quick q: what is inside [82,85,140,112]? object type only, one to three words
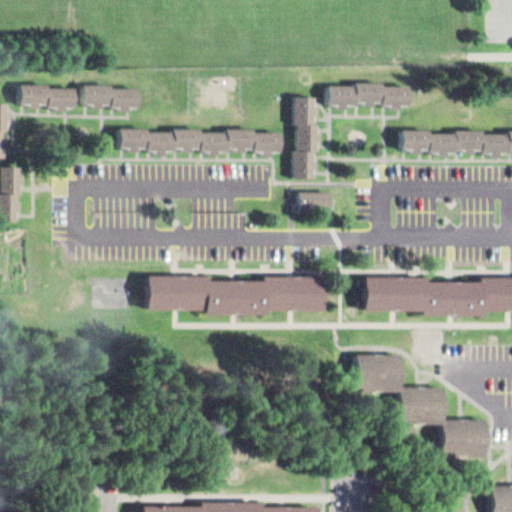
building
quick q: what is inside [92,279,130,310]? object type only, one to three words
basketball court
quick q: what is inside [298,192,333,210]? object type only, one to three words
house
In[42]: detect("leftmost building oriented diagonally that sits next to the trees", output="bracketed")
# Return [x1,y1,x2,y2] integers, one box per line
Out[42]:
[354,354,489,456]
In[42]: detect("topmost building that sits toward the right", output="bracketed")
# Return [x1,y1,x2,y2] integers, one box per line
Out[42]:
[326,84,412,110]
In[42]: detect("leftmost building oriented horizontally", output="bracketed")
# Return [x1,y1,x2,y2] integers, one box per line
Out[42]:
[20,85,78,112]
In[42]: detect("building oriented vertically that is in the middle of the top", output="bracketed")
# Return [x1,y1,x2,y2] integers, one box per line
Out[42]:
[294,96,319,180]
